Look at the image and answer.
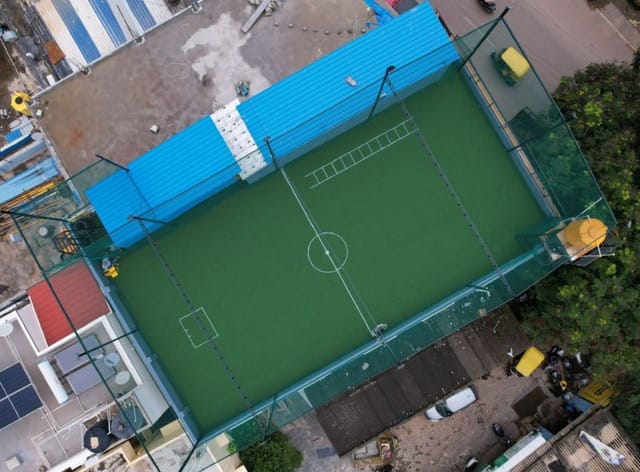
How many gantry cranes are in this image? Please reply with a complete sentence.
I count no gantry cranes.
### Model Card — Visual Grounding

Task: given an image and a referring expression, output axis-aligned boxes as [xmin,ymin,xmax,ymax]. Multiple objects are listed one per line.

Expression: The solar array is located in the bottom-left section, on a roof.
[0,343,47,428]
